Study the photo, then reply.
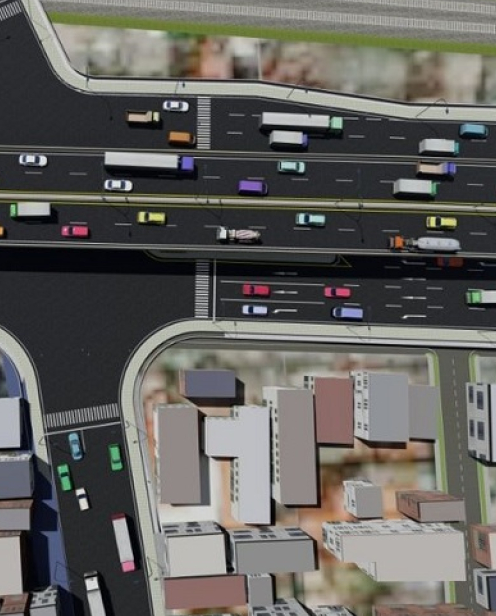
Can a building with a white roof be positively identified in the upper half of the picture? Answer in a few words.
No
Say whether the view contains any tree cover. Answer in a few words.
No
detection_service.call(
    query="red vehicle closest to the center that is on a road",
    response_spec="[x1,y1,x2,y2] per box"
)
[242,284,268,296]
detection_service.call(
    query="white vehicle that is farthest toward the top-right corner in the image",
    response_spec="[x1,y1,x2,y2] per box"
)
[416,139,460,157]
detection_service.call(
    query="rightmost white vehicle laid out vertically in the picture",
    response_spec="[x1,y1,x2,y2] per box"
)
[111,512,137,574]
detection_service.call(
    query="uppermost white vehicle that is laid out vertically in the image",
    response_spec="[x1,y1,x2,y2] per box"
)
[76,485,88,512]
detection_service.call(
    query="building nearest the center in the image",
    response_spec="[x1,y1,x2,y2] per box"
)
[180,369,235,397]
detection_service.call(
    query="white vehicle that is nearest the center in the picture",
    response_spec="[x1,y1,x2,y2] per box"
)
[240,304,267,316]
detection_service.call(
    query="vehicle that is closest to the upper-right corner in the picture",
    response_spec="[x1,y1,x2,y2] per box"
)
[457,125,487,140]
